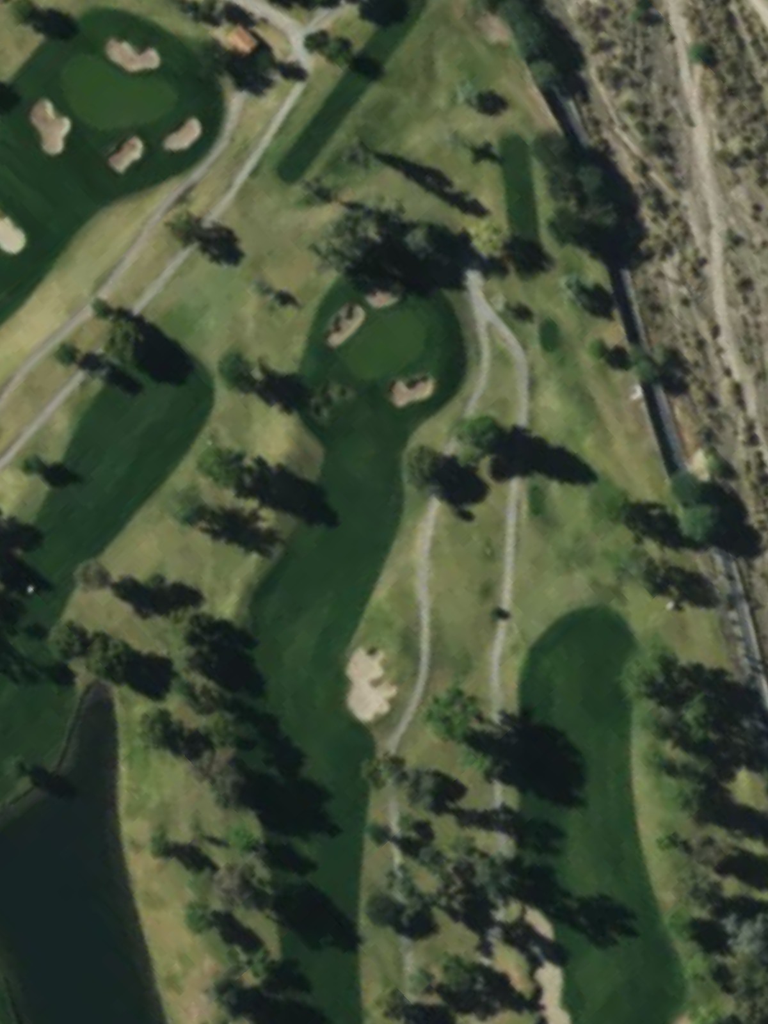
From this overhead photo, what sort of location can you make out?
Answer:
golf course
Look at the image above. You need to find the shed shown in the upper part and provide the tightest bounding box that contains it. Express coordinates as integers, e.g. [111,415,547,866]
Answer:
[228,24,257,53]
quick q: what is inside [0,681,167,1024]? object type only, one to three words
pond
